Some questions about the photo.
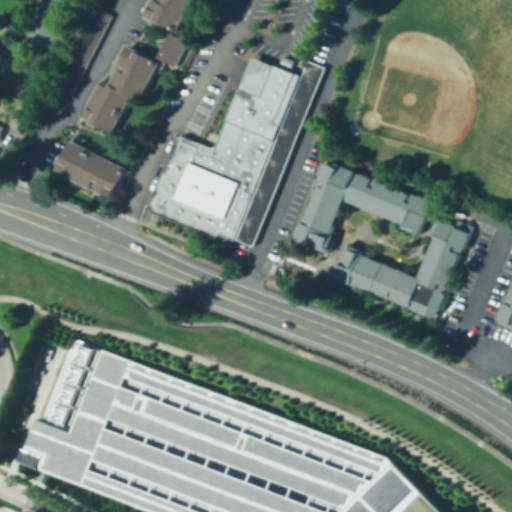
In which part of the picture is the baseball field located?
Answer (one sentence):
The baseball field is in the top right part of the image.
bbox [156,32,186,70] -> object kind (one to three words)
house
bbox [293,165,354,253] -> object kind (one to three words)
building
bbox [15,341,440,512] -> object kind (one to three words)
building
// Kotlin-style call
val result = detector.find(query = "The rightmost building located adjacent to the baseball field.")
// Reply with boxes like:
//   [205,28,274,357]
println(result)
[406,221,471,318]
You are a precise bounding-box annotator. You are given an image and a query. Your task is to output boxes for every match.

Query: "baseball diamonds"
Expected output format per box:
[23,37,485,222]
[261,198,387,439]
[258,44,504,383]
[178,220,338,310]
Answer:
[351,0,512,212]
